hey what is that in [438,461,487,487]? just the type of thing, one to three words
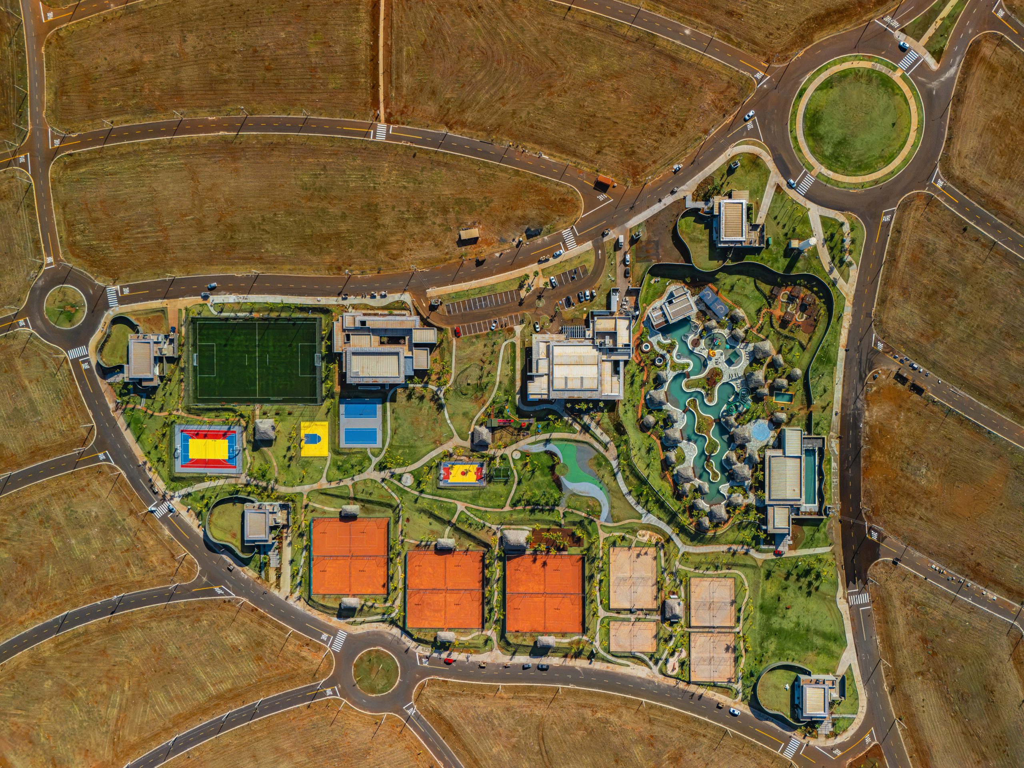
sports court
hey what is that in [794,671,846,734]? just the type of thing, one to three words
house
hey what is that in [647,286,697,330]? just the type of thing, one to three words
building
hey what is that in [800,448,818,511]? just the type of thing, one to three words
swimming pool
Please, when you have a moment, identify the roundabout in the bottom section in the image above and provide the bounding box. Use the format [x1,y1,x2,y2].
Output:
[352,647,400,695]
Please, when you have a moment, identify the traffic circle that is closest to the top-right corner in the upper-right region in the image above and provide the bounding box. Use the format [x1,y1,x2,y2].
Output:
[789,53,925,190]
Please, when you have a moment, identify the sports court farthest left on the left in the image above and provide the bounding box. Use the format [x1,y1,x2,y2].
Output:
[172,424,243,474]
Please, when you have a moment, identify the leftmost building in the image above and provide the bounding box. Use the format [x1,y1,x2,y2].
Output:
[125,333,182,385]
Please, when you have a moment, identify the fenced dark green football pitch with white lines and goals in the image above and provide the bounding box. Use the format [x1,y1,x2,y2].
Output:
[187,317,321,405]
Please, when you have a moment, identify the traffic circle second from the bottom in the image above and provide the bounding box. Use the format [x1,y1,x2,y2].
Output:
[44,285,87,329]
